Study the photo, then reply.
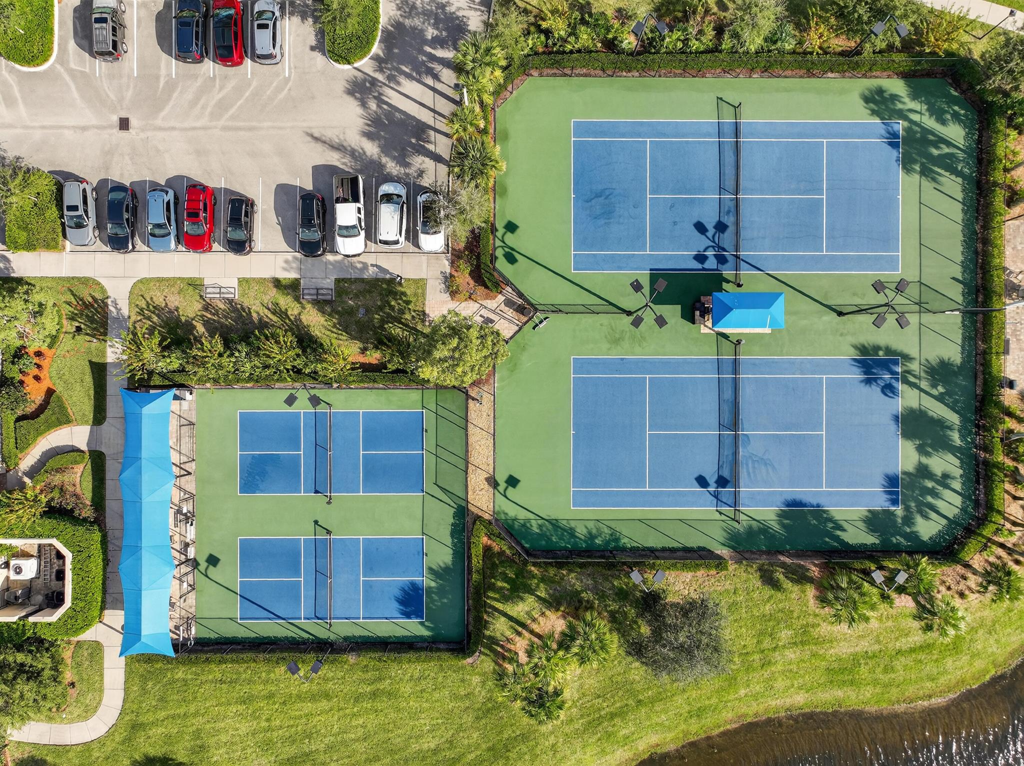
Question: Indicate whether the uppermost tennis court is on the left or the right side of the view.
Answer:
right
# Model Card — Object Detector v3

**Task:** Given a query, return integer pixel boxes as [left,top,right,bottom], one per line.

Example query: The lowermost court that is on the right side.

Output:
[495,313,976,550]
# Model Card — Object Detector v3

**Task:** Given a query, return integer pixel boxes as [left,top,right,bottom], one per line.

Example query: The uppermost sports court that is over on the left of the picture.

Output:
[196,389,466,516]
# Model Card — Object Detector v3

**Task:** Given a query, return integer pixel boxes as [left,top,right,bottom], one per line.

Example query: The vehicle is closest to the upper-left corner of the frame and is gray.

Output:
[92,0,129,66]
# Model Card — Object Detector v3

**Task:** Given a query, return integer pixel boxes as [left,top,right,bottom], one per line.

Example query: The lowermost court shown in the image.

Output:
[196,516,466,644]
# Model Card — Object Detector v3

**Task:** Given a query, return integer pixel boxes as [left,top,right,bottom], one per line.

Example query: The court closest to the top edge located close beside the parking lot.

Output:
[495,78,976,313]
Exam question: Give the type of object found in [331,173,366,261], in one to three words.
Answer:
truck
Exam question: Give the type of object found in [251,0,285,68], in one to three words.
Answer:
car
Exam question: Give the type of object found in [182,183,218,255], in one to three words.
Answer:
car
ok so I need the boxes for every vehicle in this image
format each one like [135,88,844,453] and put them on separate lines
[331,173,366,261]
[294,191,327,261]
[225,194,259,259]
[374,180,407,252]
[61,177,99,248]
[145,185,181,255]
[211,0,247,70]
[104,183,141,256]
[174,0,210,67]
[92,0,129,66]
[251,0,285,68]
[415,188,447,256]
[182,183,218,255]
